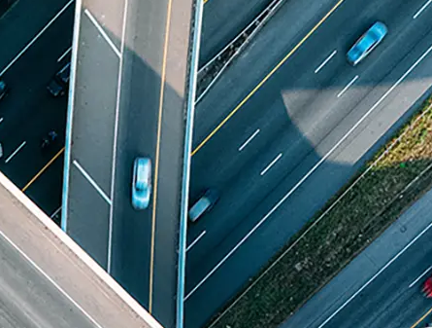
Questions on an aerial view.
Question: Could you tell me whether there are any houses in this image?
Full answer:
No, there is no house in the image.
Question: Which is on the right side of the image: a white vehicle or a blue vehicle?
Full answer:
The feature located on the right side of the image is a blue vehicle.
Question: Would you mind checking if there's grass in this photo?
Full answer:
Yes, grass can be seen from above here.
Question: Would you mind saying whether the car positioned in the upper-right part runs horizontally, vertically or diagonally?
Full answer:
From this overhead view, the car positioned in the upper-right part appears to run diagonally.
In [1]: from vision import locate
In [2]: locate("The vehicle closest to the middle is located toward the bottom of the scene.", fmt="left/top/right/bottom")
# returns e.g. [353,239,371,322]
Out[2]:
[186,176,229,226]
